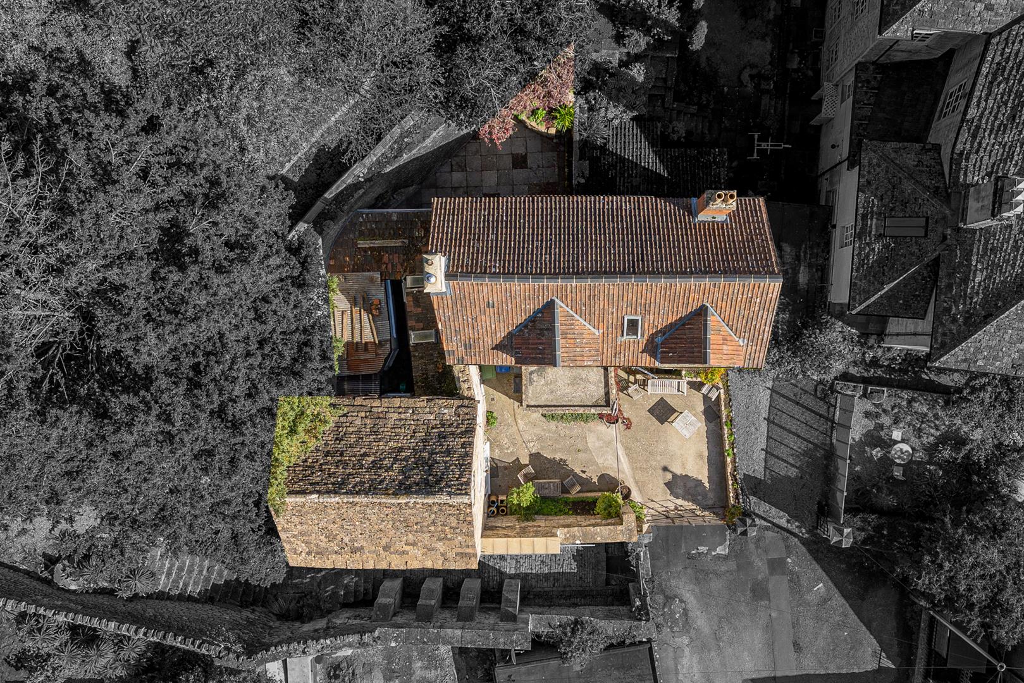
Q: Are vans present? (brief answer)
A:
No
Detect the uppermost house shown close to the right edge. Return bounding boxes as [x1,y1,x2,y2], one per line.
[812,0,1024,374]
